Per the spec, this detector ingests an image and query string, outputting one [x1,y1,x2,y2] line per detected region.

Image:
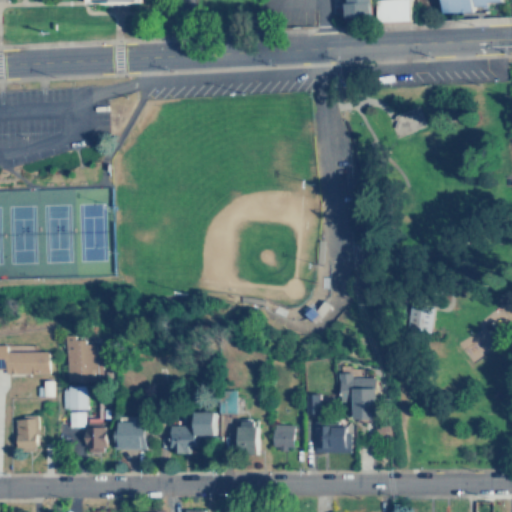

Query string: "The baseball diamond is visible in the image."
[118,94,322,307]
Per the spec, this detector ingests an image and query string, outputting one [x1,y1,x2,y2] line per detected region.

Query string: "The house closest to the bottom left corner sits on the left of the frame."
[17,416,42,452]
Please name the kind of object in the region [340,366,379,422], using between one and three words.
house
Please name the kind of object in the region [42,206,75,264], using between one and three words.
tennis court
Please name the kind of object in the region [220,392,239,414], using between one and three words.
shed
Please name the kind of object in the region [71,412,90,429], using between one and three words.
building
